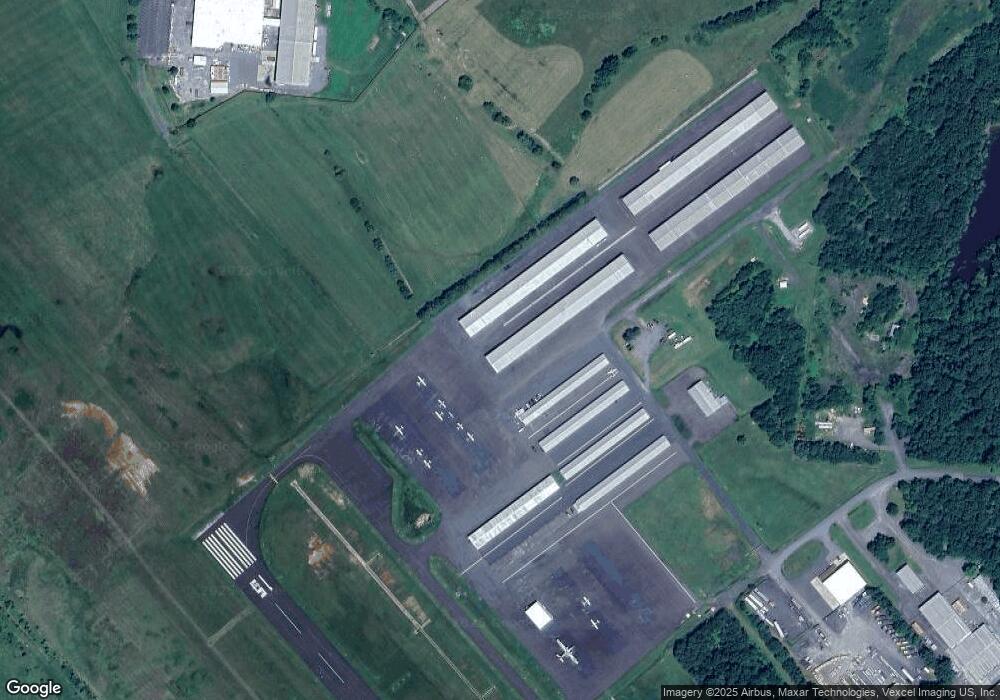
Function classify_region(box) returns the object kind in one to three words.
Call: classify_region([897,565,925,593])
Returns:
shed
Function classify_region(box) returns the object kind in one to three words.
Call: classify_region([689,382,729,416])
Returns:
hangar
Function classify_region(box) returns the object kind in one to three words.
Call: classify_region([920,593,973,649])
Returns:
building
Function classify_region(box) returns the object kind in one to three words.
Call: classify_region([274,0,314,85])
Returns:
building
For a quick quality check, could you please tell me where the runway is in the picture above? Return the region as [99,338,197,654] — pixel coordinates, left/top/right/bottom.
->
[192,513,381,700]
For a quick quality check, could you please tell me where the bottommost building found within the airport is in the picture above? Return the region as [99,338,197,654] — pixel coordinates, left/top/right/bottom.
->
[525,601,552,629]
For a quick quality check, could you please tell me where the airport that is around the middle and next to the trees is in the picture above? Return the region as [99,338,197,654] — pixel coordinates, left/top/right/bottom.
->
[192,80,811,700]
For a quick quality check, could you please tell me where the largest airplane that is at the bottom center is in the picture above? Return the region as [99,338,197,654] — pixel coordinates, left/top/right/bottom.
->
[557,639,579,664]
